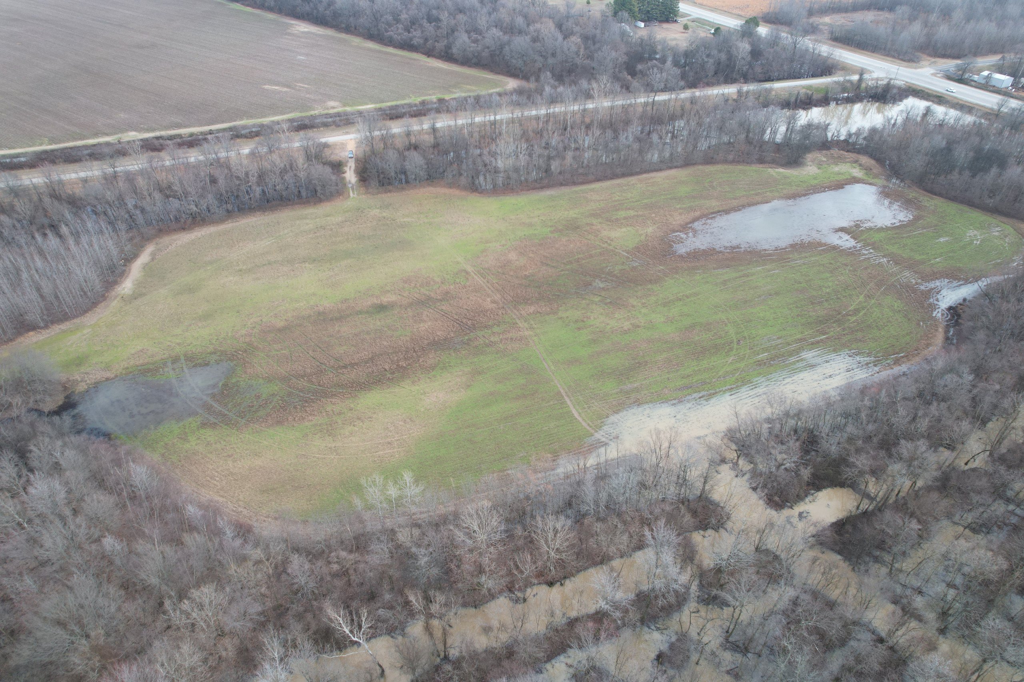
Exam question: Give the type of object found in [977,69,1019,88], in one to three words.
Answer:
building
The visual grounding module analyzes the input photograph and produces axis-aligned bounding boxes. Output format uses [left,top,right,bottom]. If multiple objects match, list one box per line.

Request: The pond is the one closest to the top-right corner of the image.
[757,95,1003,150]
